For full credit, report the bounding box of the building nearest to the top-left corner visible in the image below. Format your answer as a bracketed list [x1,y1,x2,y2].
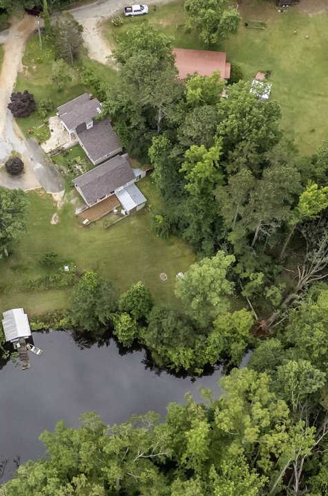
[53,91,101,143]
